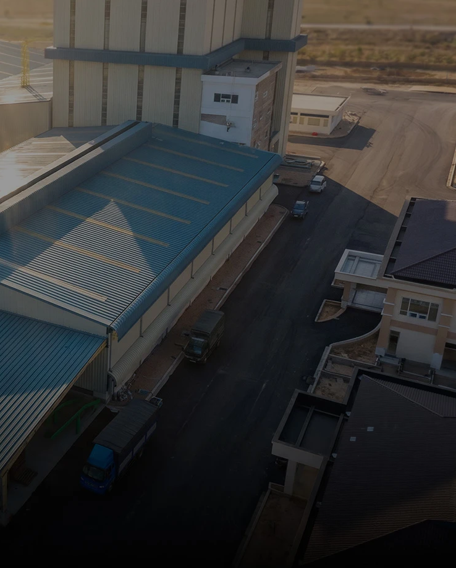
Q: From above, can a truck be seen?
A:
Yes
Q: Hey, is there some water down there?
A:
No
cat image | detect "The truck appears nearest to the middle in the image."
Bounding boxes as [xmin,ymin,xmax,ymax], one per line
[185,310,226,363]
